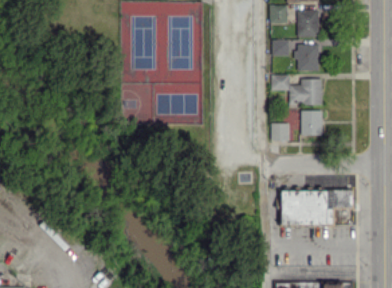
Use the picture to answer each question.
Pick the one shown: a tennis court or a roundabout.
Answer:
tennis court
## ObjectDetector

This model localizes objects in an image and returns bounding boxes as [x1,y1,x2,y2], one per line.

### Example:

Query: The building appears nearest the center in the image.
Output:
[272,122,290,142]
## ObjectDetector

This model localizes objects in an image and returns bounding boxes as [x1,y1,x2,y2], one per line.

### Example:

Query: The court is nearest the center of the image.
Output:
[152,82,202,124]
